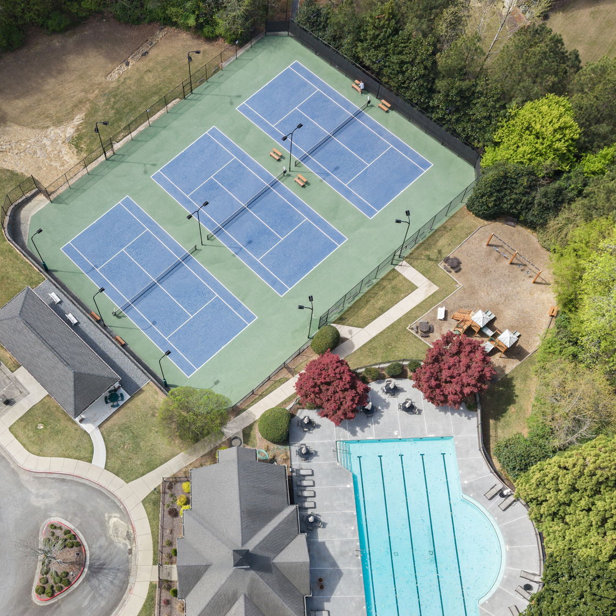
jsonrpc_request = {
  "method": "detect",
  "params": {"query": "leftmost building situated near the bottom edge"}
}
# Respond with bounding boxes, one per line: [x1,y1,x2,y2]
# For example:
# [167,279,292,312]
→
[175,445,312,616]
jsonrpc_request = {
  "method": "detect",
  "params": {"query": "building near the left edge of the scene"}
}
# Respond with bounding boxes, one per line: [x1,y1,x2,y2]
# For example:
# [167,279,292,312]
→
[0,288,123,425]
